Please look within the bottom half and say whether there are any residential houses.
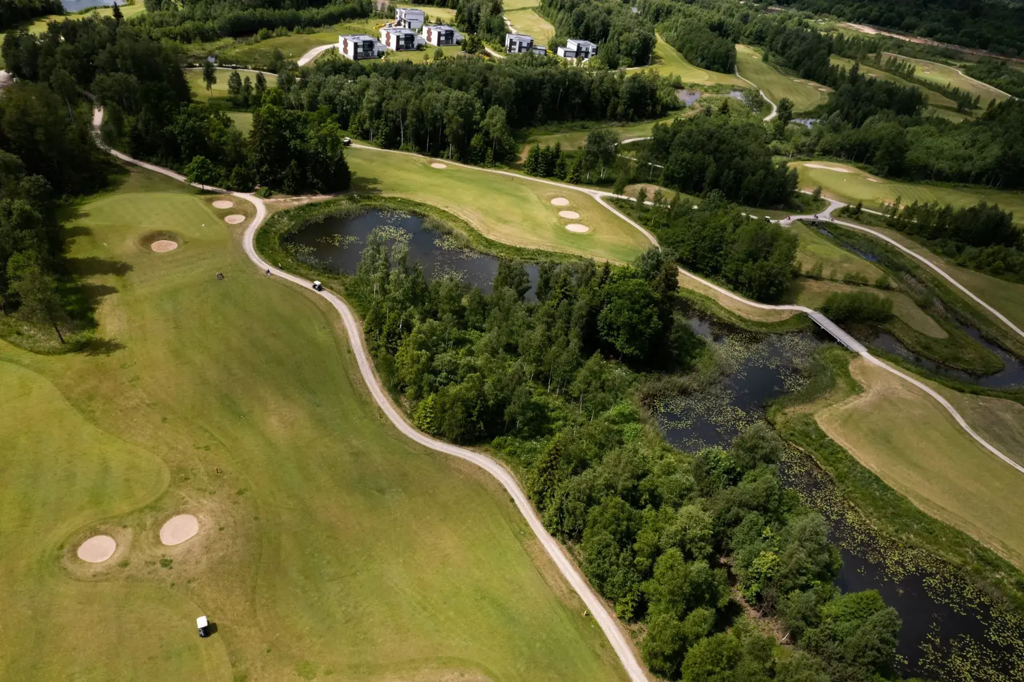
No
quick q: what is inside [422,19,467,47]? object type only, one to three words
house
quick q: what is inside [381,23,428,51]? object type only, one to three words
house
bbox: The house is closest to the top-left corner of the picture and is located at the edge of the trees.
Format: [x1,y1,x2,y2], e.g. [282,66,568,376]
[337,30,387,61]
